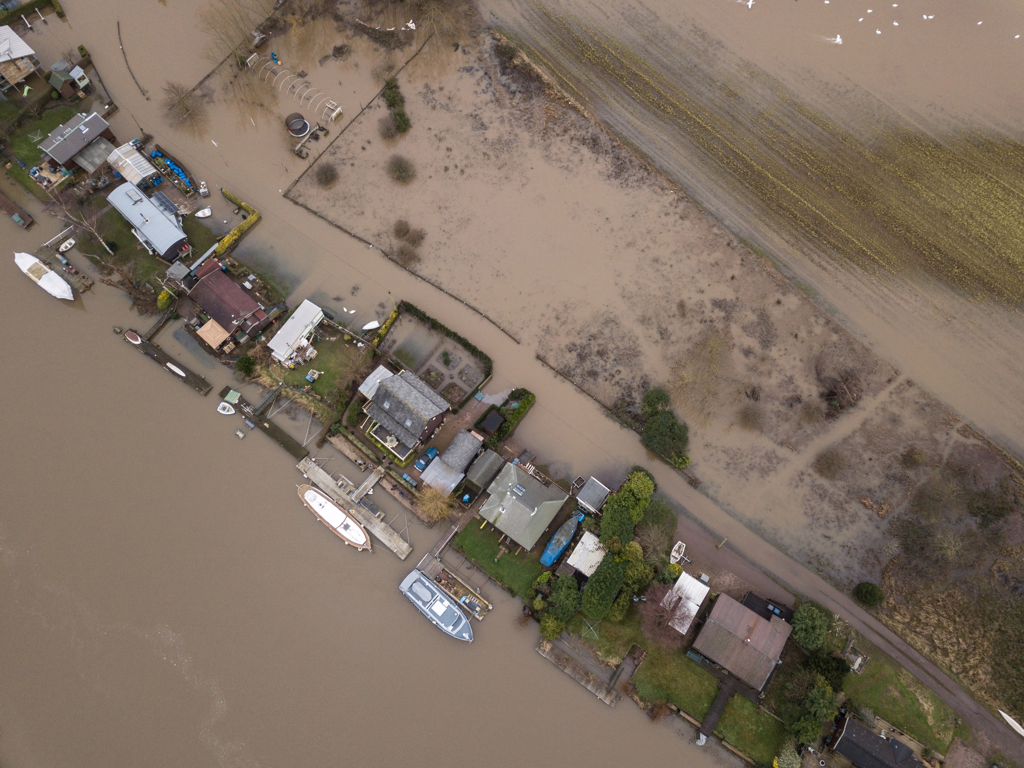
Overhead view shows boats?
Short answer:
Yes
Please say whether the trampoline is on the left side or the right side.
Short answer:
left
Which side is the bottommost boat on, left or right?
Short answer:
right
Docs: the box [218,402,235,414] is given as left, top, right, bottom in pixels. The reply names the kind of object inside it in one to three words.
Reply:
boat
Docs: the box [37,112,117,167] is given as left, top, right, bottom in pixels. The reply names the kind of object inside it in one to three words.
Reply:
house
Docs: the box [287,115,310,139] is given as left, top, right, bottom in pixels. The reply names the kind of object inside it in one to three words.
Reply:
trampoline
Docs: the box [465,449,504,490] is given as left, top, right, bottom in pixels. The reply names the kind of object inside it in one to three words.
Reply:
shed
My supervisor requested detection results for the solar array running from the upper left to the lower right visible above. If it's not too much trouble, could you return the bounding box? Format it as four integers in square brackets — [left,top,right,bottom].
[152,191,186,216]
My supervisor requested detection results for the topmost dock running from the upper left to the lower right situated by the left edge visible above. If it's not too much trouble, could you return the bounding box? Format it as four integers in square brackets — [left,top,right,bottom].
[35,249,95,289]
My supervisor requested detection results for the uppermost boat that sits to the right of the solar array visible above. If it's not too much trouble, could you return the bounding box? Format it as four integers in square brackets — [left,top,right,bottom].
[194,206,211,218]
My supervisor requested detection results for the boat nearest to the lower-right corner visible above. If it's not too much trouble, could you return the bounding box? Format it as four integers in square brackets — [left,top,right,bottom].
[999,710,1024,736]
